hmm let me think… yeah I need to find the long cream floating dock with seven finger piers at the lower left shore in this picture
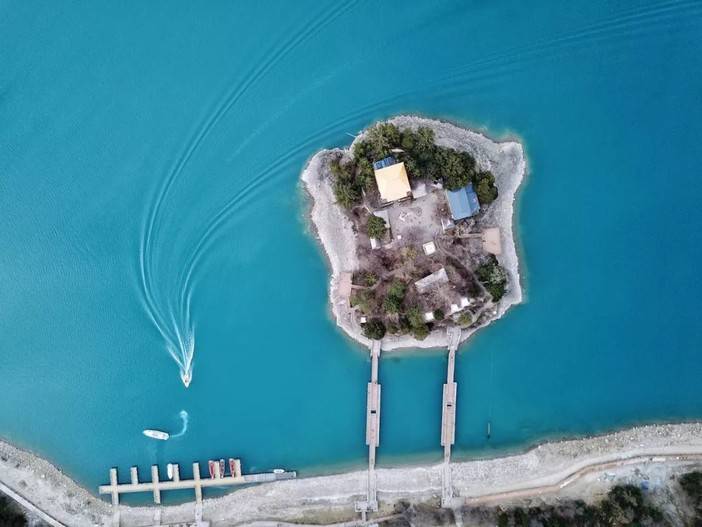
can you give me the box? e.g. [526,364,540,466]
[99,459,297,507]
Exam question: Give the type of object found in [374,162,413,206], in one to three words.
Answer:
building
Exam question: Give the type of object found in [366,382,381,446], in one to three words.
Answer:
pier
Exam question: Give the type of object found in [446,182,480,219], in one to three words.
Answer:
house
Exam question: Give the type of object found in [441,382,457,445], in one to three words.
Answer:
pier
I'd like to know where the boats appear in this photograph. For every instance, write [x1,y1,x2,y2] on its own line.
[208,458,214,479]
[167,463,172,480]
[229,456,235,478]
[184,371,190,387]
[219,458,225,479]
[142,430,170,440]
